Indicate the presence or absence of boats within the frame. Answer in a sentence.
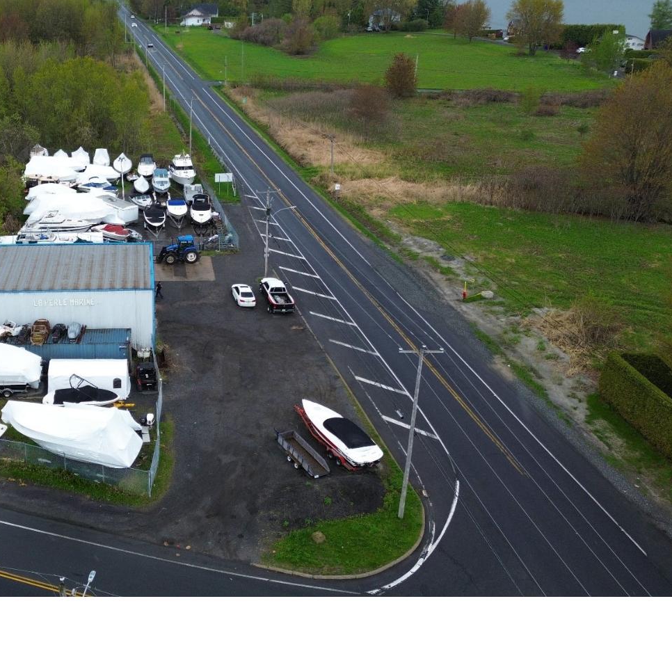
Yes, I can see a boat in this picture.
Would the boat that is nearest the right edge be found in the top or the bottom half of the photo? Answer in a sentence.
Seen from above, the boat that is nearest the right edge lies in the bottom half of the view.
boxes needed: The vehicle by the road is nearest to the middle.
[261,282,297,315]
